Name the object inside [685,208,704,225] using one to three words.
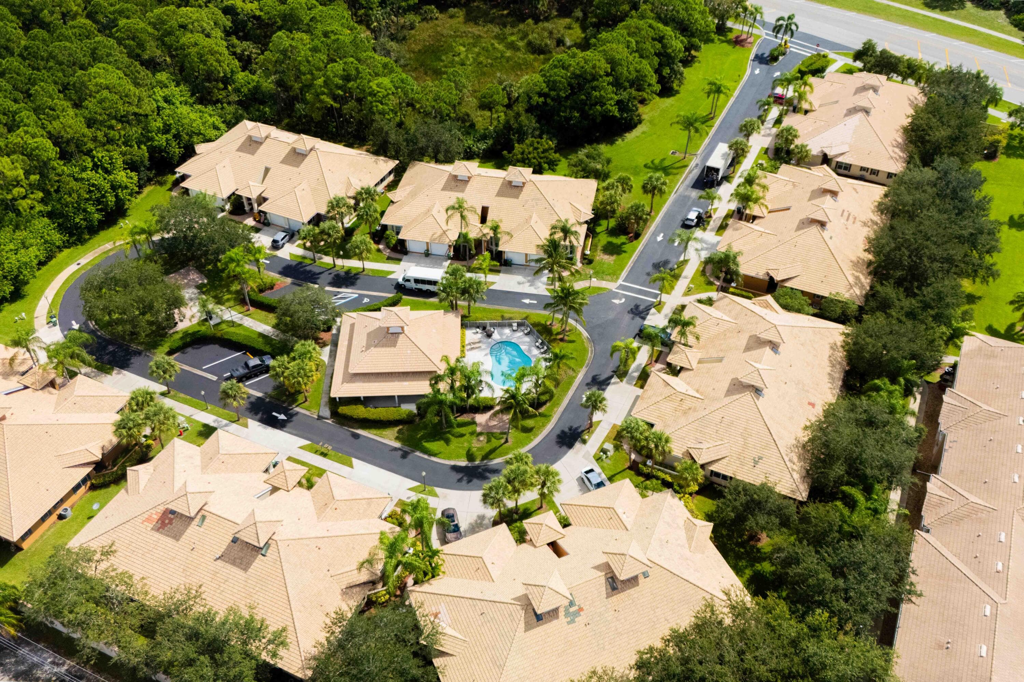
car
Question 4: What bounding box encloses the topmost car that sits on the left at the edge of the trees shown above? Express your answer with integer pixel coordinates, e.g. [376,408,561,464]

[269,229,295,248]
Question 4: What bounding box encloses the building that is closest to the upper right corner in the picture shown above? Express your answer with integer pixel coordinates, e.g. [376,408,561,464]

[787,72,918,177]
